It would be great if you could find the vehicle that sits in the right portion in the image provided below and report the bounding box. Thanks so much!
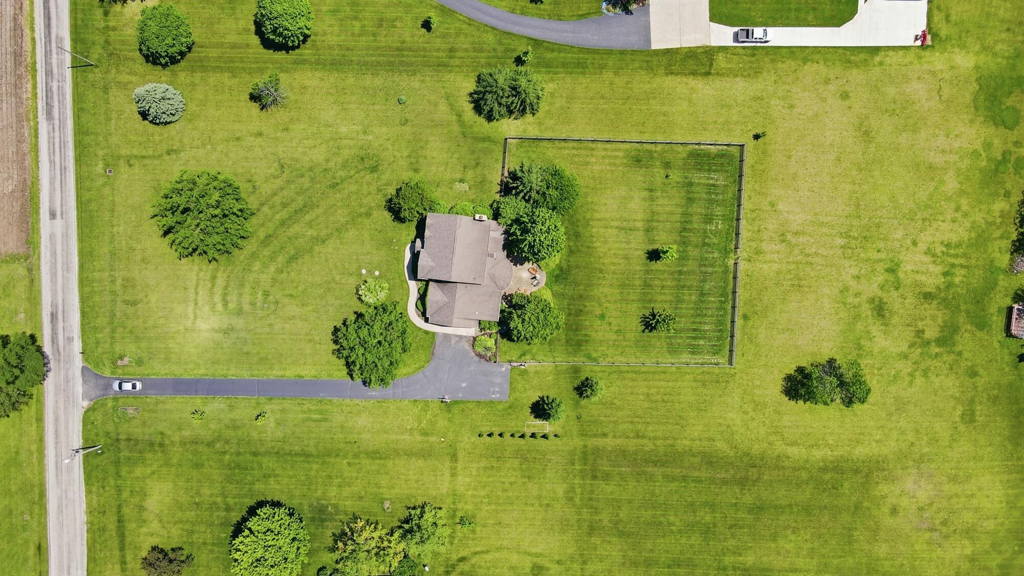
[736,26,773,43]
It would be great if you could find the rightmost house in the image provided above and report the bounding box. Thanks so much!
[414,213,513,329]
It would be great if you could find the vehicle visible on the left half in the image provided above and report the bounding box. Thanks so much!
[113,379,144,393]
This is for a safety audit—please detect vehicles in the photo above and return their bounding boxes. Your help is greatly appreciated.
[736,26,773,43]
[113,379,144,393]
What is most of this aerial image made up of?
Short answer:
grass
